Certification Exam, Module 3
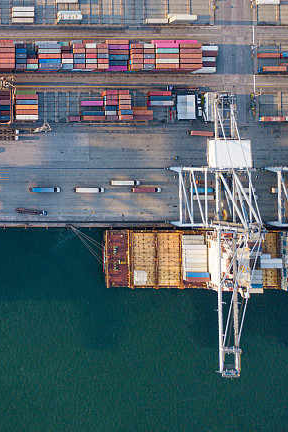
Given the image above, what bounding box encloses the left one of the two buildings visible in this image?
[172,95,196,120]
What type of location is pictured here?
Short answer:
port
